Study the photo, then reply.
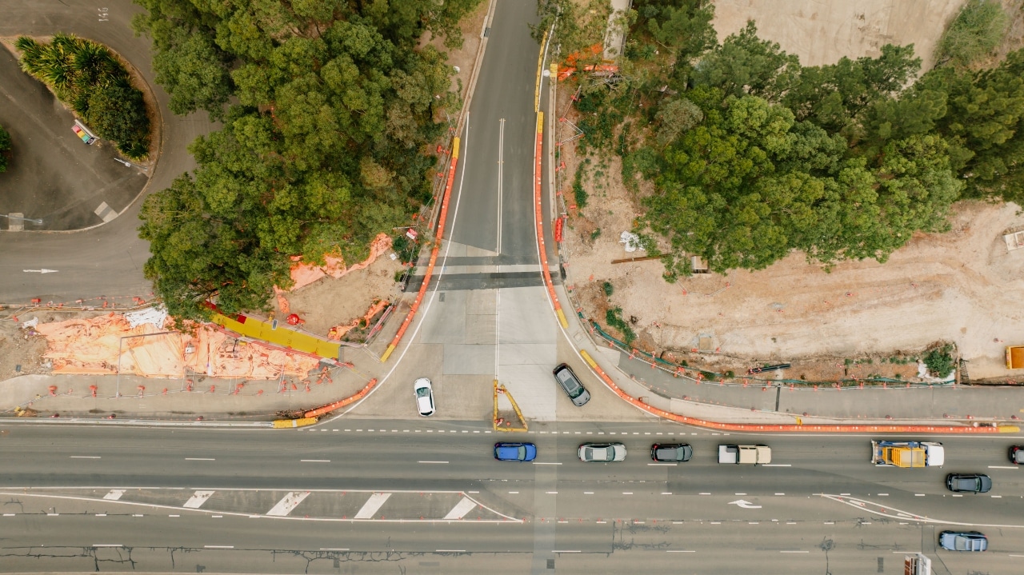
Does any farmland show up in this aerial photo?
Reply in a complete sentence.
No, the scene doesn't show any farmland.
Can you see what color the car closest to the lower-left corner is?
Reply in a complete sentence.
The car closest to the lower-left corner is white.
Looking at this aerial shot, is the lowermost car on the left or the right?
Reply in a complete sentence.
It is on the right.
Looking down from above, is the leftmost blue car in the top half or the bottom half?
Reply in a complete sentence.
The leftmost blue car is in the bottom half of the image.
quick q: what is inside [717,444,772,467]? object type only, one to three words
truck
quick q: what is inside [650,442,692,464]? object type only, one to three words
car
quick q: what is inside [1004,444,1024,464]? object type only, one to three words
car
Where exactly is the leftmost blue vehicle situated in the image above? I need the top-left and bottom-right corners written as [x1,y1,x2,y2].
[494,441,537,464]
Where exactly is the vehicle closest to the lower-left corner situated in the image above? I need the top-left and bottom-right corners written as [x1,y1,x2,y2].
[413,377,436,418]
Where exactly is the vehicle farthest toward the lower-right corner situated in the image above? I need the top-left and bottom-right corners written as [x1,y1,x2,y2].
[937,529,990,553]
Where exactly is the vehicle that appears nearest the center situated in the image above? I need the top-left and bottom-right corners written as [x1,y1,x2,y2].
[553,361,589,408]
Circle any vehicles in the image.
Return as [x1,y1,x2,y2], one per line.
[717,444,772,467]
[1004,444,1024,464]
[578,441,625,464]
[869,440,949,473]
[413,377,436,418]
[553,361,589,408]
[937,529,990,553]
[650,442,692,464]
[944,471,991,495]
[494,441,537,464]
